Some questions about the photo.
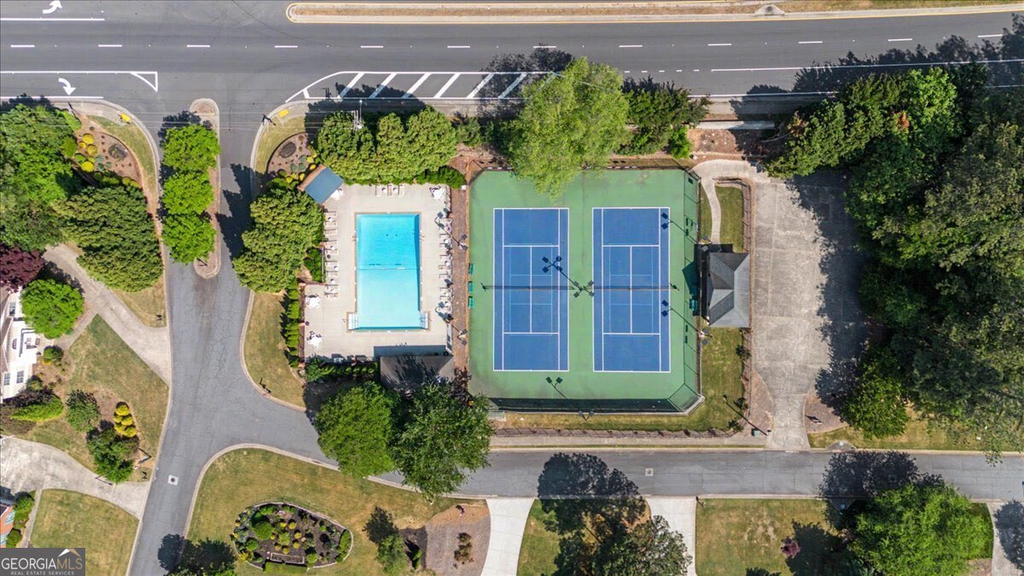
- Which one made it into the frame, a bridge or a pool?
pool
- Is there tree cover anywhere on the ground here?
Yes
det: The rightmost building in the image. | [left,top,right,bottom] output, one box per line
[706,252,751,328]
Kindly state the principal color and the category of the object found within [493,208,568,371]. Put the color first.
blue tennis court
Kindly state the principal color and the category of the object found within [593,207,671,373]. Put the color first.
blue tennis court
